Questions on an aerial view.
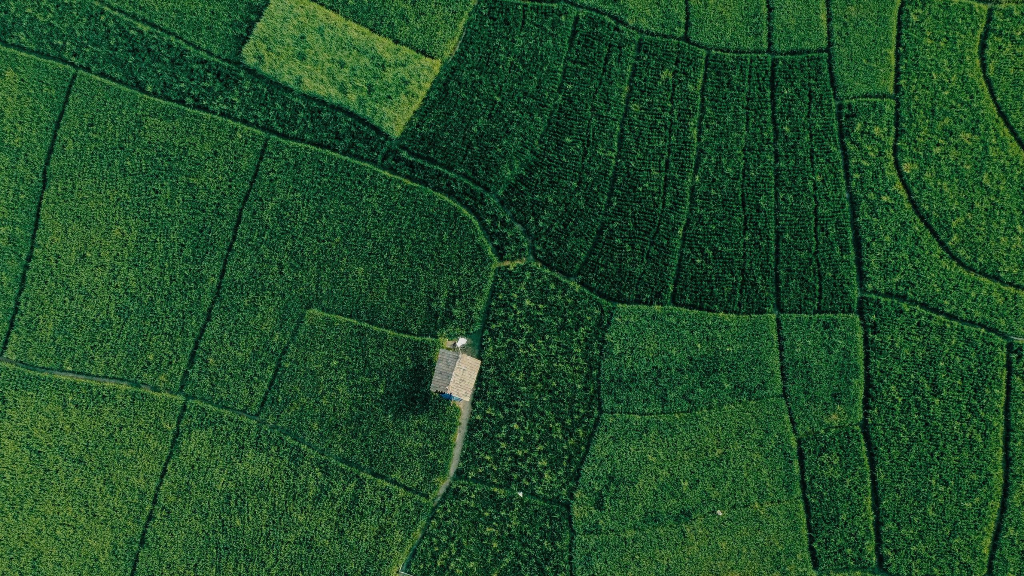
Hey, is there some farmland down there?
Yes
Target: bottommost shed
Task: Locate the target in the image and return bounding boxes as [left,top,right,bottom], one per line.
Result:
[430,348,482,401]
